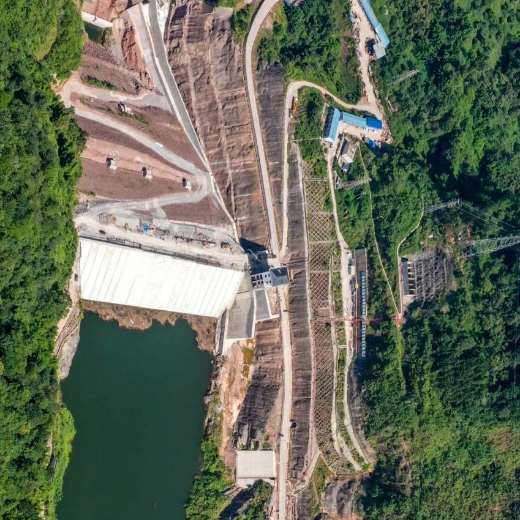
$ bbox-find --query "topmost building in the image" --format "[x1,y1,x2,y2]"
[356,0,379,28]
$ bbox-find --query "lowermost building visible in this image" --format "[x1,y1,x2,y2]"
[230,450,277,488]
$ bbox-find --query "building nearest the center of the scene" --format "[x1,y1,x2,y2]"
[254,265,292,290]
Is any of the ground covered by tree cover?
Yes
